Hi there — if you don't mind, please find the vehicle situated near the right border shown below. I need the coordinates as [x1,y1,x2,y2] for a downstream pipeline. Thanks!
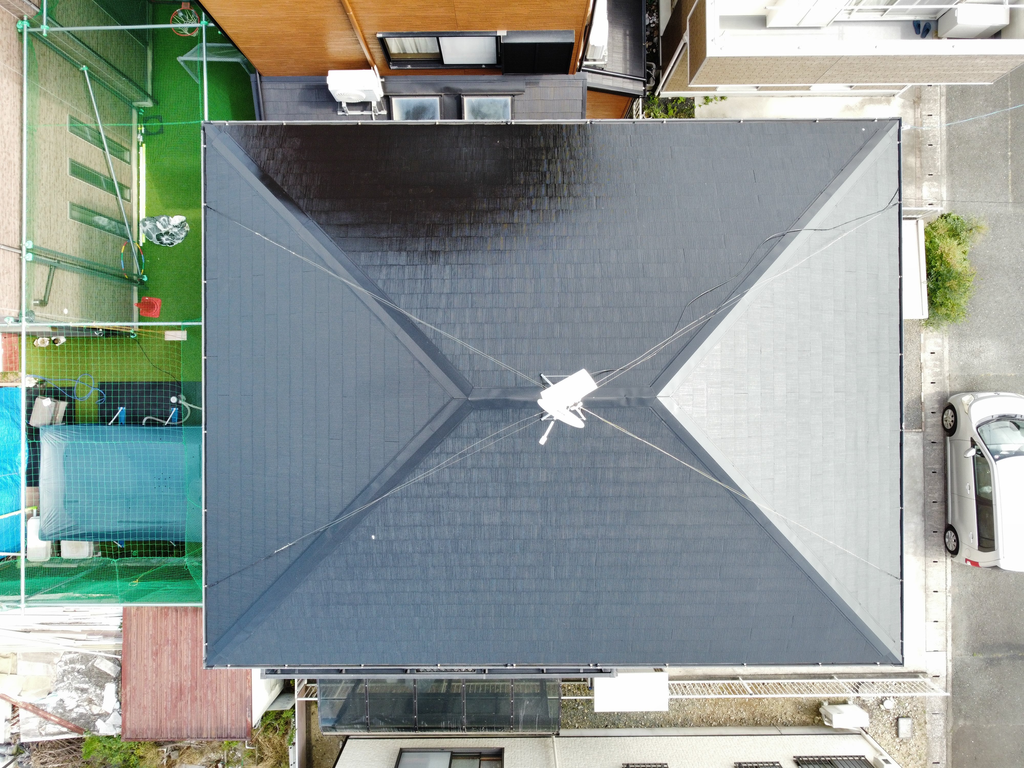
[941,391,1024,572]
